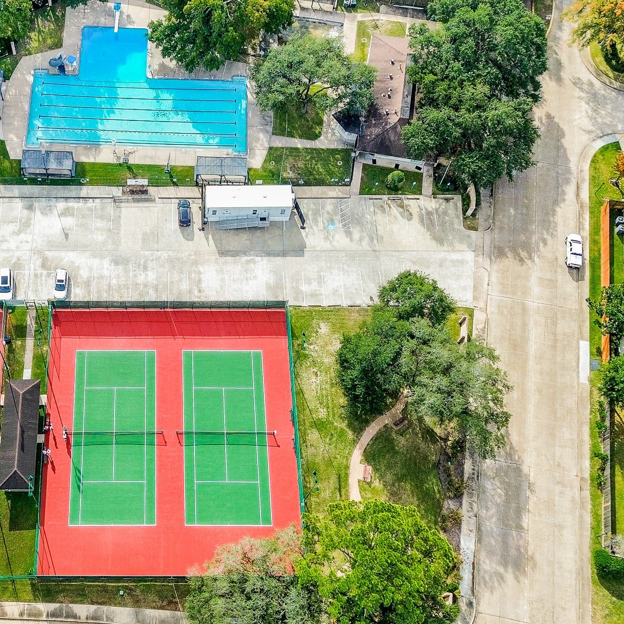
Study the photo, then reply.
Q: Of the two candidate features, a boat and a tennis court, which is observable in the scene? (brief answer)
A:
tennis court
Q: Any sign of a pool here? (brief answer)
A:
Yes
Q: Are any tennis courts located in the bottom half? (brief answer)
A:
Yes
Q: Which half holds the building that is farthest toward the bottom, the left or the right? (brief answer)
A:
left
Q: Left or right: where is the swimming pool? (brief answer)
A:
left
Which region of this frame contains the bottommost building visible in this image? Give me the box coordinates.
[0,379,46,491]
